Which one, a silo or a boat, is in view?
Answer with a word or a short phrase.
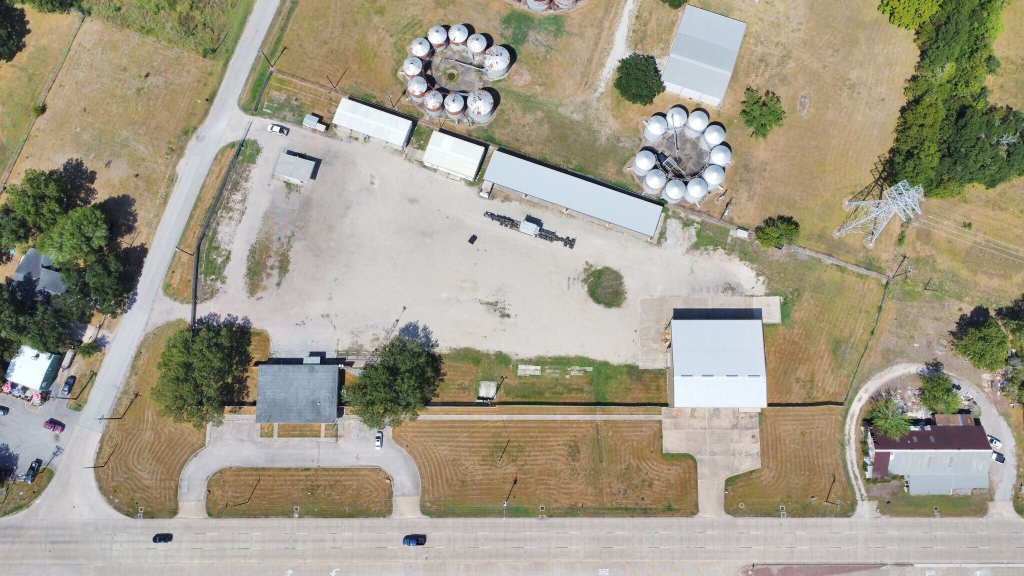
silo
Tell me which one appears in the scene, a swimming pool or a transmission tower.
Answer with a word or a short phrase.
transmission tower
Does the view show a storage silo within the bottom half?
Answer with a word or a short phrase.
No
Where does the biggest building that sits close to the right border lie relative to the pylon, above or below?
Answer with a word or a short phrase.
below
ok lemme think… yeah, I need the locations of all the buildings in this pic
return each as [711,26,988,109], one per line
[333,98,413,151]
[273,153,316,185]
[862,425,992,495]
[422,131,485,182]
[255,355,355,423]
[660,5,746,106]
[9,249,62,302]
[5,344,62,390]
[303,114,321,131]
[667,320,768,415]
[482,149,664,244]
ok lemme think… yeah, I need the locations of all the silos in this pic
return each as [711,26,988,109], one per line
[410,39,433,67]
[678,111,709,138]
[423,90,445,123]
[699,125,725,156]
[660,179,686,205]
[427,26,450,54]
[699,164,728,197]
[705,145,734,171]
[641,169,671,199]
[448,24,468,53]
[444,93,466,127]
[466,89,495,124]
[467,34,487,62]
[665,108,687,135]
[397,56,426,81]
[638,115,668,142]
[403,76,430,104]
[483,45,511,81]
[624,150,656,177]
[684,177,710,210]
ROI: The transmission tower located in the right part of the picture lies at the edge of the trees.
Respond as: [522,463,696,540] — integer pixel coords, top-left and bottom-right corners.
[836,181,924,246]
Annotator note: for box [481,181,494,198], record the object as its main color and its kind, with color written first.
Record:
white vehicle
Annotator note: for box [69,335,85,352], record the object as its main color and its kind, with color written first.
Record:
black car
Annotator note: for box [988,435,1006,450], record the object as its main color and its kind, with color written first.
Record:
white car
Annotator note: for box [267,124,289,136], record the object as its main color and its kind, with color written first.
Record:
white vehicle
